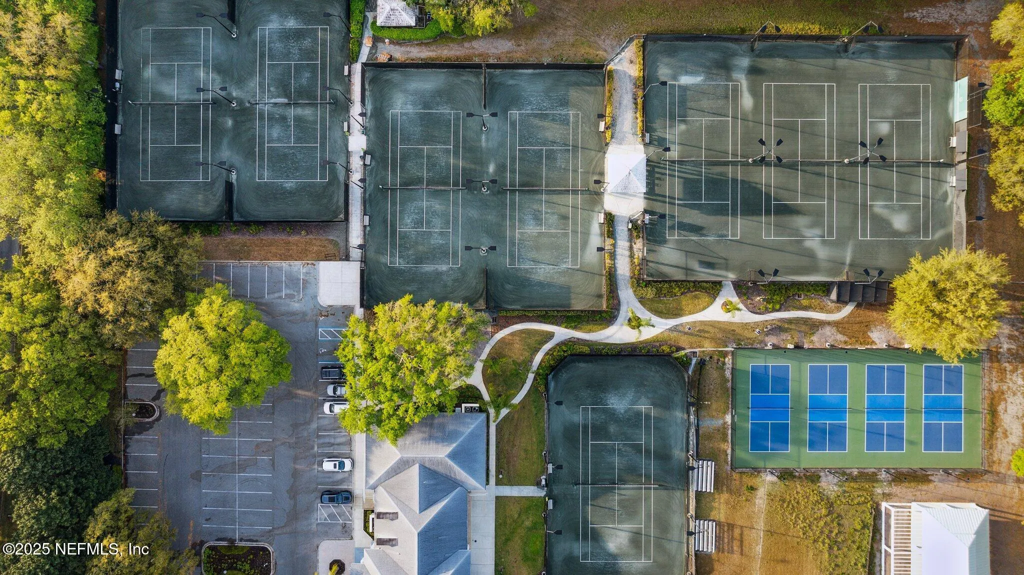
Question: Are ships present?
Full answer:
No, I can see no ship in this picture.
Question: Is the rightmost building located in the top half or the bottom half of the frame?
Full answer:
Seen from above, the rightmost building lies in the bottom half of the view.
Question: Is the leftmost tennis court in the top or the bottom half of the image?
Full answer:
The top half of the photo is where the leftmost tennis court is.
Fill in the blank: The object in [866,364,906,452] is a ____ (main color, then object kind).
blue sports court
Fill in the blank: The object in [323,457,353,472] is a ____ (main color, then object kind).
white car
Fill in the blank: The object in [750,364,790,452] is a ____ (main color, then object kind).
blue sports court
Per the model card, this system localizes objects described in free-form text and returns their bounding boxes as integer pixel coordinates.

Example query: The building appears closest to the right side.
[911,503,989,575]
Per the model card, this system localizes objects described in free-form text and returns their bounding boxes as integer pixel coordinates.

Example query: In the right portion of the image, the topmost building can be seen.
[606,154,647,193]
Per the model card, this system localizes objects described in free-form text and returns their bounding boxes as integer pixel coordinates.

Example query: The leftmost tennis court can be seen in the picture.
[118,0,234,220]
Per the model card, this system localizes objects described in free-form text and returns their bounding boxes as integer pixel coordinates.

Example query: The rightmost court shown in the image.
[923,364,963,452]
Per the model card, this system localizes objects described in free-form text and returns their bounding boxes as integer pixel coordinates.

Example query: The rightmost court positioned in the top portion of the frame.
[847,42,956,281]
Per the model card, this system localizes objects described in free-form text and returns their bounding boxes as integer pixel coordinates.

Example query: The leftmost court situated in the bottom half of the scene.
[547,356,690,575]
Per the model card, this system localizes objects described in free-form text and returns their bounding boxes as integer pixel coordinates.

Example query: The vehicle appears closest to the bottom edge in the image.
[321,489,352,506]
